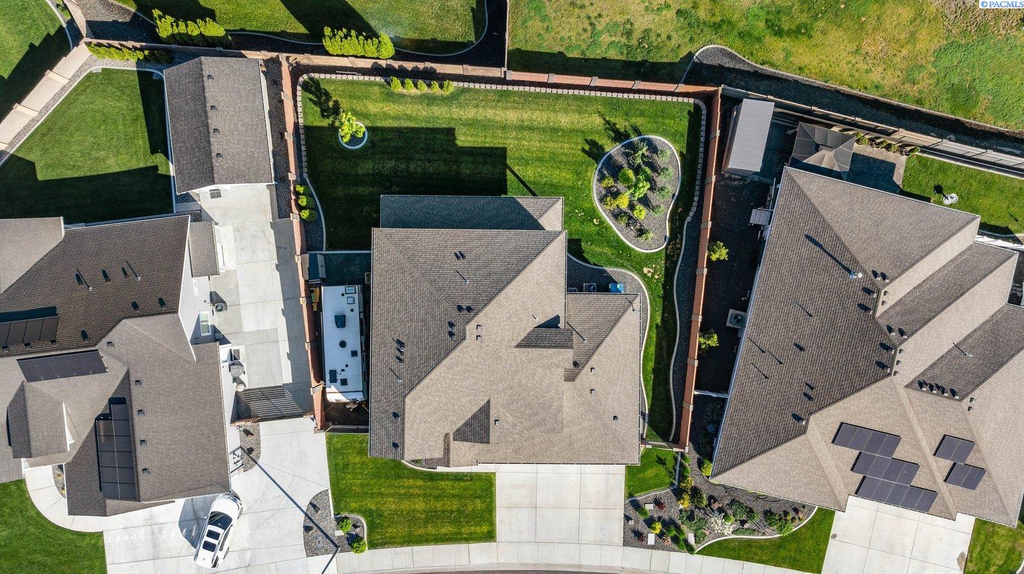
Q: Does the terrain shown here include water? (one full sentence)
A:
No, there is no water in the image.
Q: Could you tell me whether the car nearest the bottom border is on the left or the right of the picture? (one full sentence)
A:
It is on the left.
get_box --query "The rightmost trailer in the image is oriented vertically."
[321,285,369,407]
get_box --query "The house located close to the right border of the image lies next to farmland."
[707,165,1024,529]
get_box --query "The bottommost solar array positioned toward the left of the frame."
[96,405,137,501]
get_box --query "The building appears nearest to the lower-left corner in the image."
[0,214,236,517]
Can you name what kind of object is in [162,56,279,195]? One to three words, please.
building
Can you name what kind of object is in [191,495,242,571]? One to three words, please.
car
